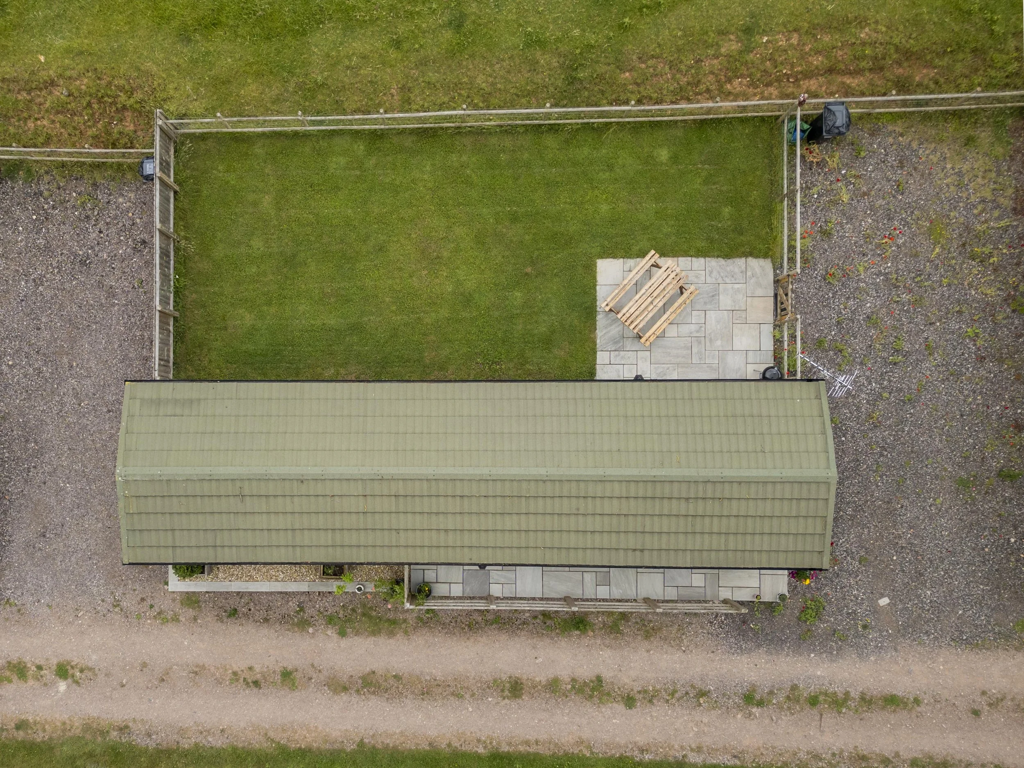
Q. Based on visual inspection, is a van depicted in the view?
No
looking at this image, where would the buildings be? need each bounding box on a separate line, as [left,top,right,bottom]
[113,379,839,568]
